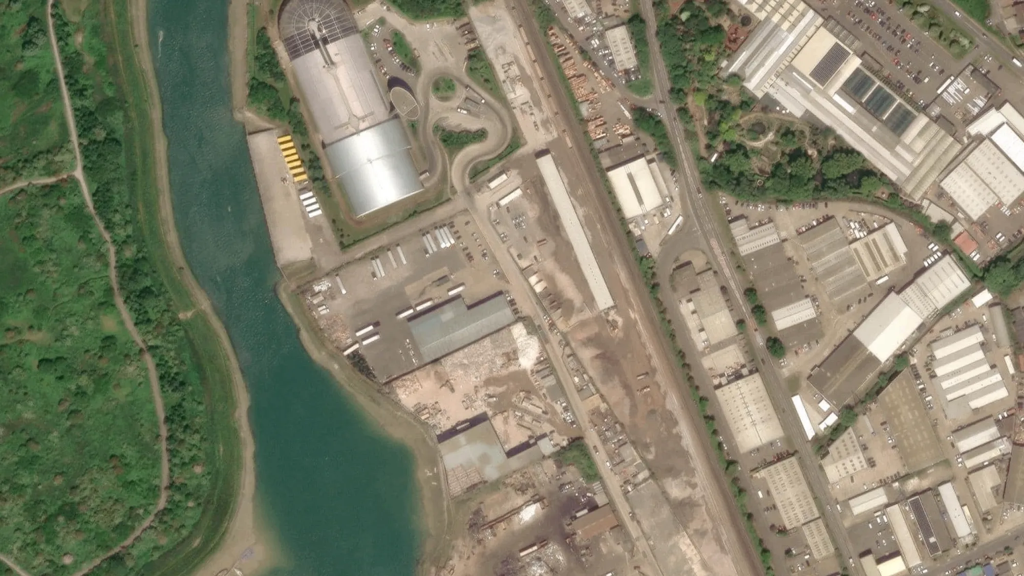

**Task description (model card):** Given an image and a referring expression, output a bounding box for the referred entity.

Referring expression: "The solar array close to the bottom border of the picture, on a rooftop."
[910,500,940,554]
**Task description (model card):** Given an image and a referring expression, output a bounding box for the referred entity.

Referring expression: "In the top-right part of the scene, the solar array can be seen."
[807,41,848,83]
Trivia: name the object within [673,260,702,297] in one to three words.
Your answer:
building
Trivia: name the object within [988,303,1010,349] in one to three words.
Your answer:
shed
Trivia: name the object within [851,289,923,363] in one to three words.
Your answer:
building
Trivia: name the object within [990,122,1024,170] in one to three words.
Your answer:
shed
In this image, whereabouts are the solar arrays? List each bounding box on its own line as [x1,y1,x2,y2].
[807,41,848,83]
[910,500,940,554]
